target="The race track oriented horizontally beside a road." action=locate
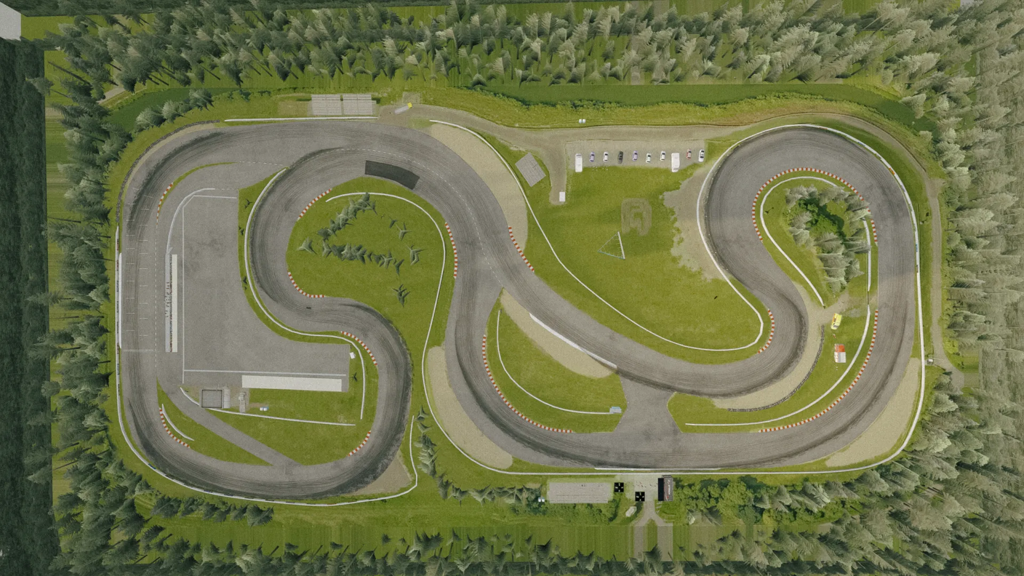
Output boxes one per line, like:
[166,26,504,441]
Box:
[121,121,915,500]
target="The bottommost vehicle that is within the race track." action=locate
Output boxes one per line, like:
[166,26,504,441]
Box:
[834,343,846,361]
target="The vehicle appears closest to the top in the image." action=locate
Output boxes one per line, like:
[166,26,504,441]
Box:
[395,102,413,115]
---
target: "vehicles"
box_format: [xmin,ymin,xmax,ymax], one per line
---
[646,153,651,163]
[632,151,638,161]
[670,152,680,173]
[618,152,623,163]
[686,150,691,159]
[831,314,842,328]
[660,151,666,161]
[395,102,413,115]
[834,343,846,361]
[575,154,582,173]
[590,152,595,162]
[603,152,608,162]
[699,150,704,161]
